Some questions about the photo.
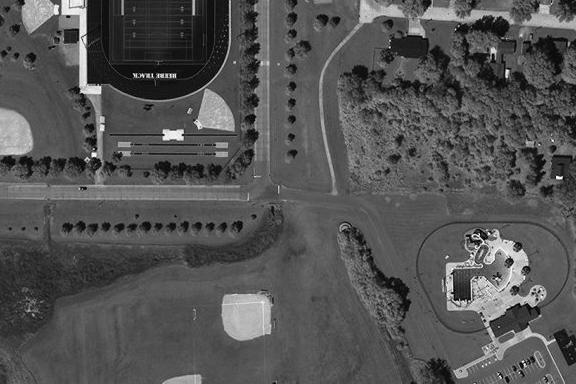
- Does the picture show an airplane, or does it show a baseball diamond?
baseball diamond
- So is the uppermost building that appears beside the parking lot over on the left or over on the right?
right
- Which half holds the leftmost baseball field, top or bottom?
top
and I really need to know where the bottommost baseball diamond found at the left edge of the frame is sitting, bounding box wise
[0,107,34,155]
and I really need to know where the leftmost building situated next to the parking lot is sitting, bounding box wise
[490,302,542,338]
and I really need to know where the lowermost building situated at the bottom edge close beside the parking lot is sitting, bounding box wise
[553,327,576,366]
